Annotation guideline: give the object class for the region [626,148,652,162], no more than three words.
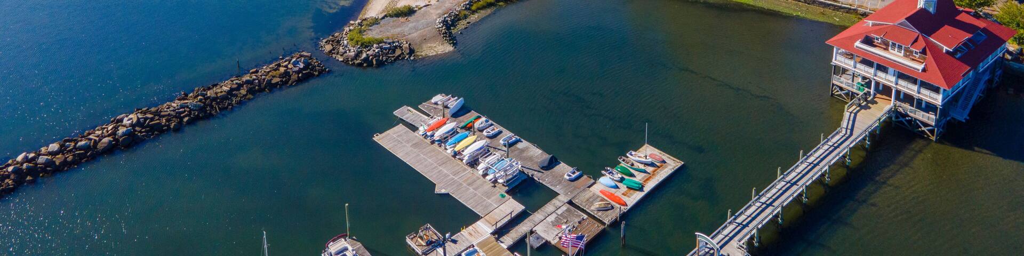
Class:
boat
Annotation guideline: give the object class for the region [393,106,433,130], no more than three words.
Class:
pier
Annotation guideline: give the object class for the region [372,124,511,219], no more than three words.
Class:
pier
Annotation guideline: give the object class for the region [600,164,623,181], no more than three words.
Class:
boat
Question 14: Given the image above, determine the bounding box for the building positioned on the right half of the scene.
[825,0,1017,142]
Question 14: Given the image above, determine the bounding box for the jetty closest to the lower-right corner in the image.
[684,84,904,256]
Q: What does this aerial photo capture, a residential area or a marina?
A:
marina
